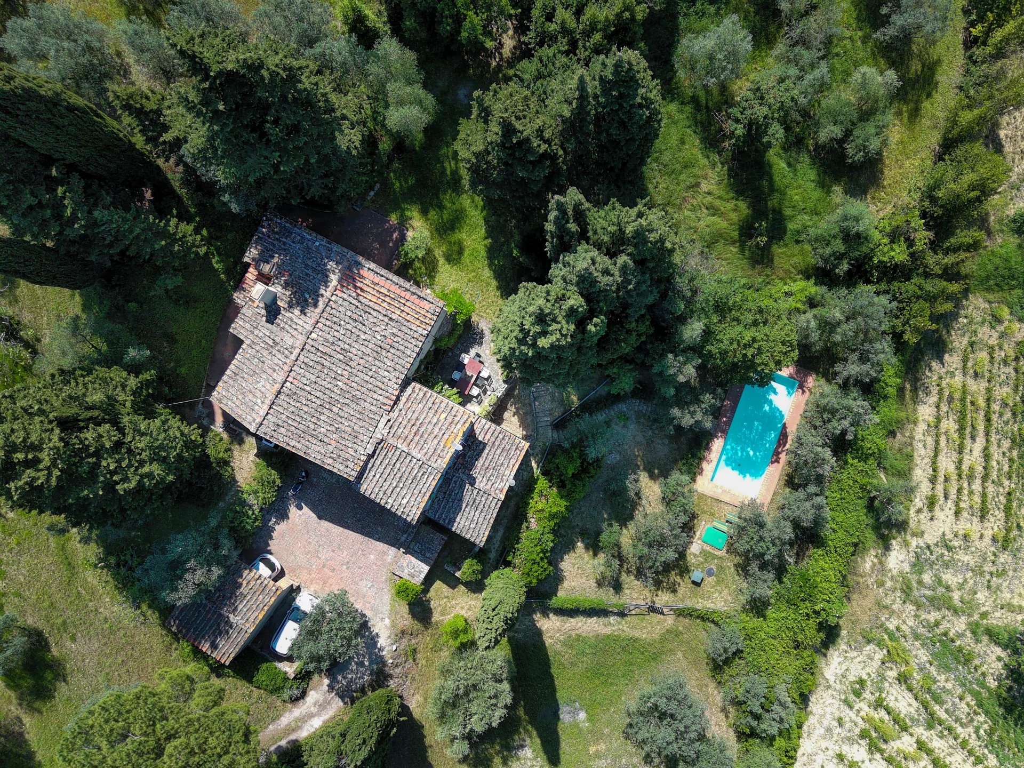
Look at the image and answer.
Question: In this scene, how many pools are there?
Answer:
1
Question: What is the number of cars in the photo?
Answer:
2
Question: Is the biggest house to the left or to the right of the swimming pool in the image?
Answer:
to the left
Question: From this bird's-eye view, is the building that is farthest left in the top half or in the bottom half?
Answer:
bottom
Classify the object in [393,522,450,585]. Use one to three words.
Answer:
shed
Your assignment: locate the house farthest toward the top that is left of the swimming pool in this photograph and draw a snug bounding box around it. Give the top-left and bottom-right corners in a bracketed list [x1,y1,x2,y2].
[208,210,532,548]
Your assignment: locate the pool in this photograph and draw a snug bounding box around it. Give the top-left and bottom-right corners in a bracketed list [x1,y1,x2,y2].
[697,350,815,511]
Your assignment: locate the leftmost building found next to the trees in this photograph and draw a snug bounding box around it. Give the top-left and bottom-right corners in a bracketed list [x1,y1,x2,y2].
[163,552,309,667]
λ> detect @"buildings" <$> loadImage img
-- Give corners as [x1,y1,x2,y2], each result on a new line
[163,552,309,667]
[393,522,450,585]
[208,210,532,548]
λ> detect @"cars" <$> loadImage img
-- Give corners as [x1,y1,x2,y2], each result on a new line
[254,550,289,580]
[274,581,329,657]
